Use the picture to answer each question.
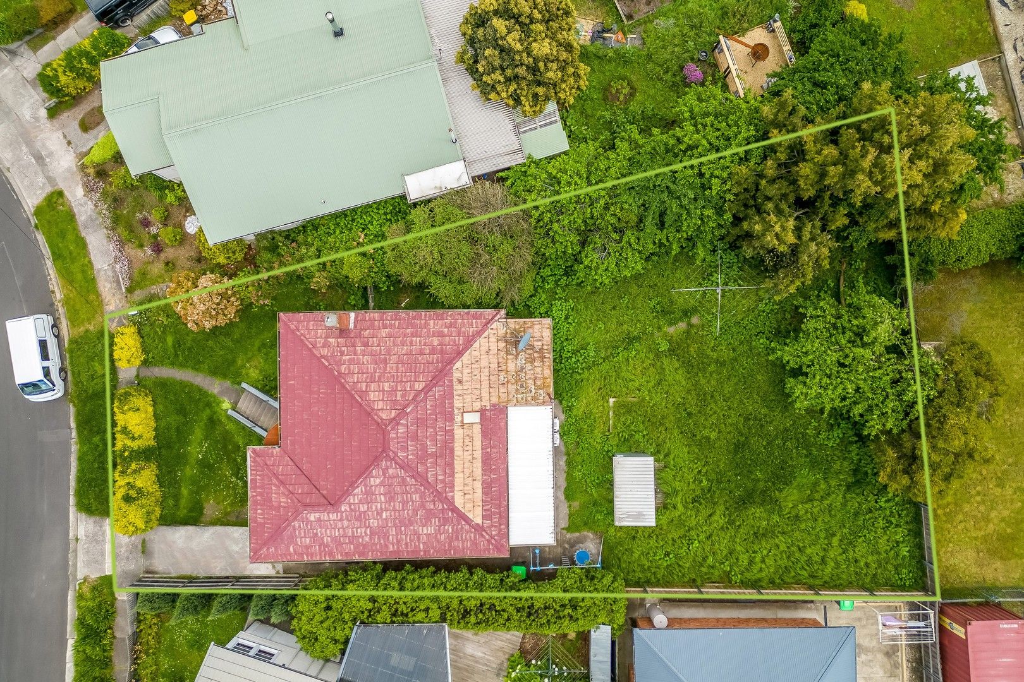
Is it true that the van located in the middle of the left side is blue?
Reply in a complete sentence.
No, the van located in the middle of the left side is white.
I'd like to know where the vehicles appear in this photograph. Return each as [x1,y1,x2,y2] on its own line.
[85,0,162,30]
[127,16,189,50]
[5,313,68,404]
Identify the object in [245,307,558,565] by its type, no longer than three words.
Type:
house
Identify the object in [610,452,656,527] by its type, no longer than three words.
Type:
shed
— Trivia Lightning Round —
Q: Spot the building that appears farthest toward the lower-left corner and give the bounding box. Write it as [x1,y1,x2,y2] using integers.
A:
[195,623,341,682]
